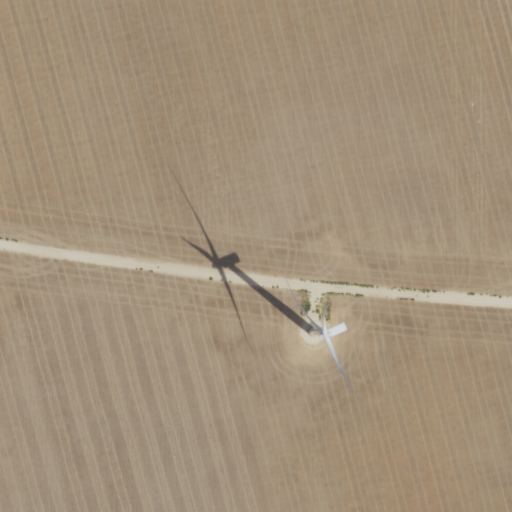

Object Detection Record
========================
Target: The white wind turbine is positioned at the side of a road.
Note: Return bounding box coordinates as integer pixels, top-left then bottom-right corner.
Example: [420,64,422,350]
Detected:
[276,244,366,416]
